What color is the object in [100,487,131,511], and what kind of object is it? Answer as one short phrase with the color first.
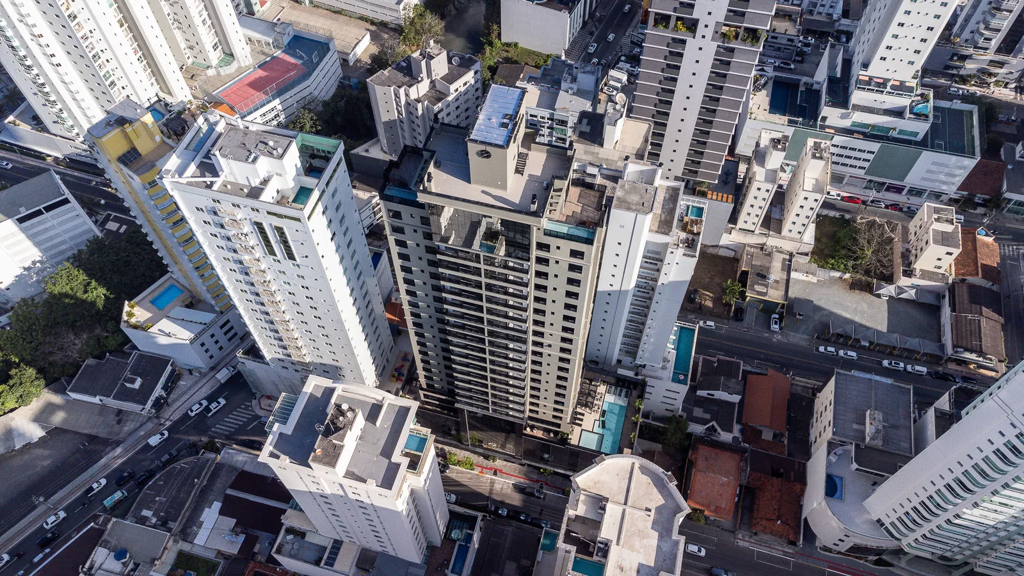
blue truck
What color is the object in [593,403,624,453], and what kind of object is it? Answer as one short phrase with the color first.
blue swimming pool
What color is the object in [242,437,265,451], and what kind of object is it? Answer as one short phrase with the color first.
black car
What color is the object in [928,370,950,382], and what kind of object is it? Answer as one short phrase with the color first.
black vehicle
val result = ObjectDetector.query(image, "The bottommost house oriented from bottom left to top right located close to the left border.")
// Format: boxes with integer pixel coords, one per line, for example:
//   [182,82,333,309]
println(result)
[32,524,112,576]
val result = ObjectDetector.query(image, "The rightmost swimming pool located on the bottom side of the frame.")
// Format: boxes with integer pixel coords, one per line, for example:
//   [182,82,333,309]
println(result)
[821,473,843,503]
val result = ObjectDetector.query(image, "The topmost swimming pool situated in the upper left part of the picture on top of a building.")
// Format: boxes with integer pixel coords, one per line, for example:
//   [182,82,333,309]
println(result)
[147,104,166,122]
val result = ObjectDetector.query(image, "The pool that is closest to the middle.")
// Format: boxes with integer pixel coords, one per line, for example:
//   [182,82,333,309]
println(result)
[545,220,597,240]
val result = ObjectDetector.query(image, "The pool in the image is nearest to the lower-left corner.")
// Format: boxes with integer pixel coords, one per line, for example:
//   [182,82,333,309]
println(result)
[148,282,185,311]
